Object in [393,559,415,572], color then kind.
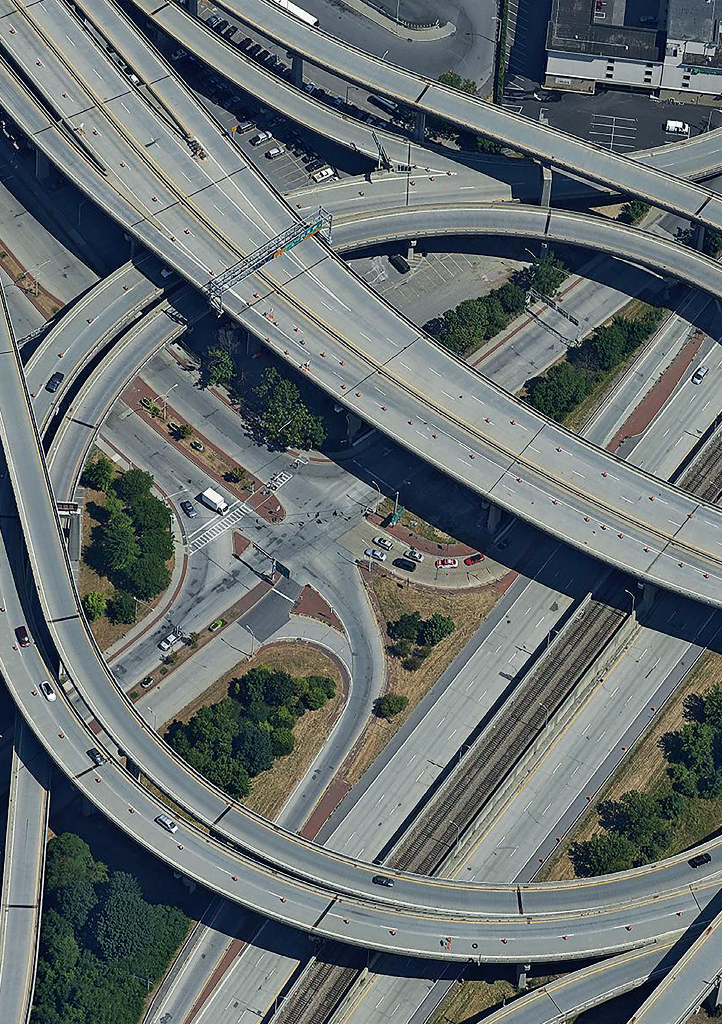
black vehicle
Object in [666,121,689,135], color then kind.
white vehicle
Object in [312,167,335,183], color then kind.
white vehicle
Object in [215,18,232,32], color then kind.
black car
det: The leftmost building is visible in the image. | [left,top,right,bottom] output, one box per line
[540,0,666,99]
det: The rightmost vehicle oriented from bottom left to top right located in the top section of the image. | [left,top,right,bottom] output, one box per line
[693,367,708,384]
